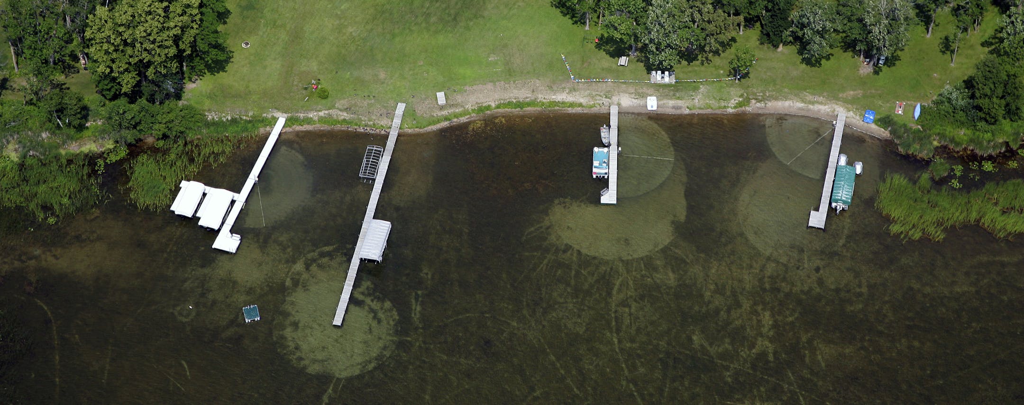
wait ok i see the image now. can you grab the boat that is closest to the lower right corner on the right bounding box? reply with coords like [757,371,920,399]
[831,202,848,215]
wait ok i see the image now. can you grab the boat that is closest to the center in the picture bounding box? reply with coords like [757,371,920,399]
[593,146,608,183]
